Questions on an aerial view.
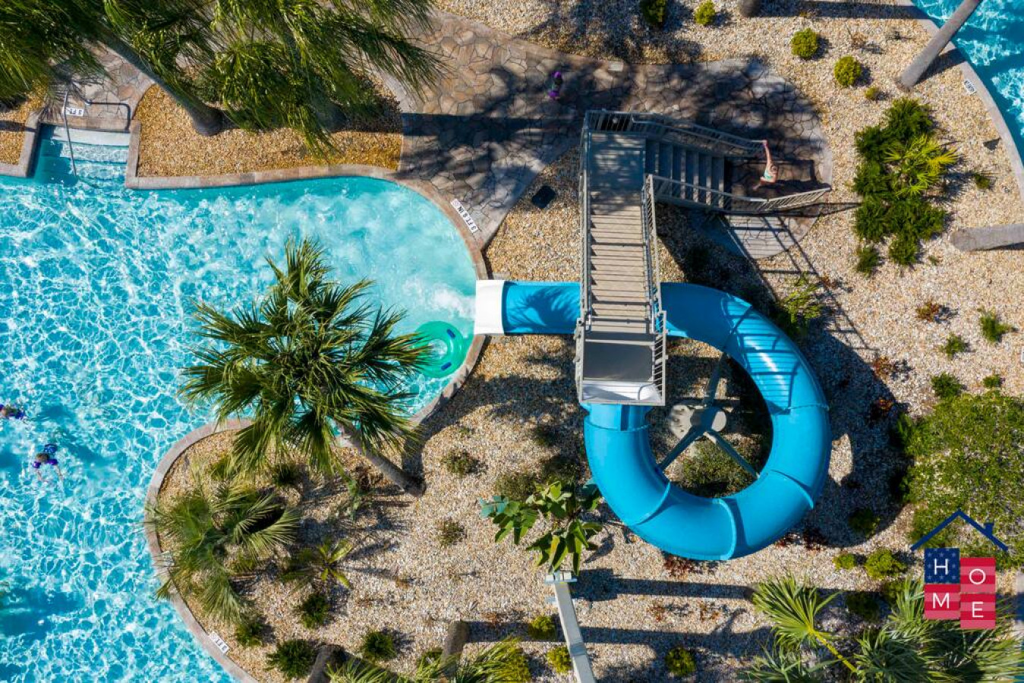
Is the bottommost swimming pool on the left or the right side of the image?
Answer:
left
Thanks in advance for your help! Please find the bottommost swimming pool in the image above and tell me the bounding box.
[0,127,476,683]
